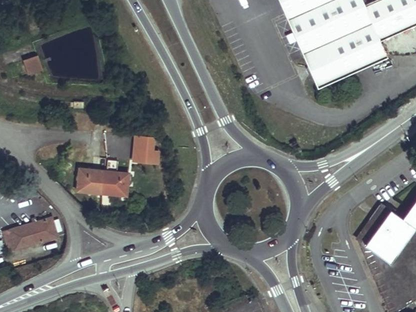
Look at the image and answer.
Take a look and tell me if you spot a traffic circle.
Yes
